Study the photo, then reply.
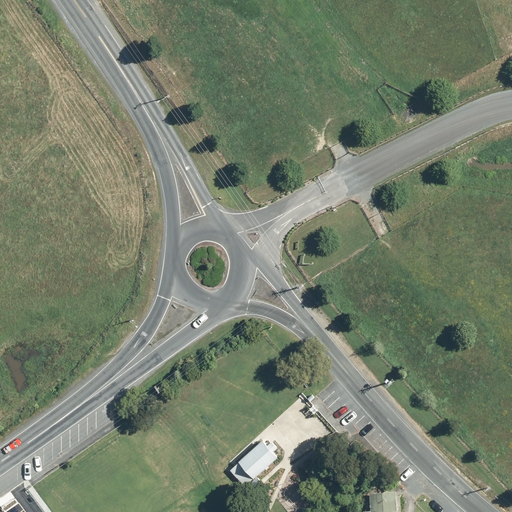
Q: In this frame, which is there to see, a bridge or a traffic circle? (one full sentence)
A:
The image shows a traffic circle.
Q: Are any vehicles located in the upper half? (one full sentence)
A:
No, there's no vehicle to be seen in the upper half.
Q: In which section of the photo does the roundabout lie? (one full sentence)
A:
The roundabout is in the center part of the image.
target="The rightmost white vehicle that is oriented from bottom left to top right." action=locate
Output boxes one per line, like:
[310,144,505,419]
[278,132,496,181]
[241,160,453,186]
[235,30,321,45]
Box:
[400,466,416,482]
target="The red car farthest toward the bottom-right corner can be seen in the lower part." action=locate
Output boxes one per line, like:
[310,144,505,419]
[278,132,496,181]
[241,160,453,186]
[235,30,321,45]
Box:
[333,404,349,419]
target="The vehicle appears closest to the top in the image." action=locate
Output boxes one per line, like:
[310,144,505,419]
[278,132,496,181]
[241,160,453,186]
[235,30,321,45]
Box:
[192,313,208,329]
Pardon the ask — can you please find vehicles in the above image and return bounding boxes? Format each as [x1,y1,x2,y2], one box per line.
[34,456,42,472]
[340,410,358,426]
[400,466,416,482]
[359,422,374,438]
[24,463,32,480]
[192,313,208,329]
[428,499,444,512]
[333,404,349,419]
[3,438,22,455]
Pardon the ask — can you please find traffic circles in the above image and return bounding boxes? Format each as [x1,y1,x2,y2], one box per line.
[172,224,243,307]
